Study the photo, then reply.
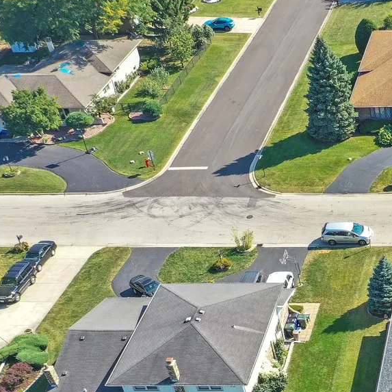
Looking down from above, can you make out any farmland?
No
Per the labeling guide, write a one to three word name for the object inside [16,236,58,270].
car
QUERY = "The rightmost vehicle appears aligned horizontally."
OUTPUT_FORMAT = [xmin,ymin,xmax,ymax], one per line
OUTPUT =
[319,221,374,245]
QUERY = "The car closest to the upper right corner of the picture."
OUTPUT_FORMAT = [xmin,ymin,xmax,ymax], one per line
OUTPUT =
[206,15,237,29]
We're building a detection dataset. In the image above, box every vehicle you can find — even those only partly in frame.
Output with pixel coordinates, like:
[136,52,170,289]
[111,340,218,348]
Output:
[0,259,38,300]
[266,267,292,302]
[16,236,58,270]
[233,264,264,283]
[121,270,164,296]
[319,221,374,245]
[206,15,237,29]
